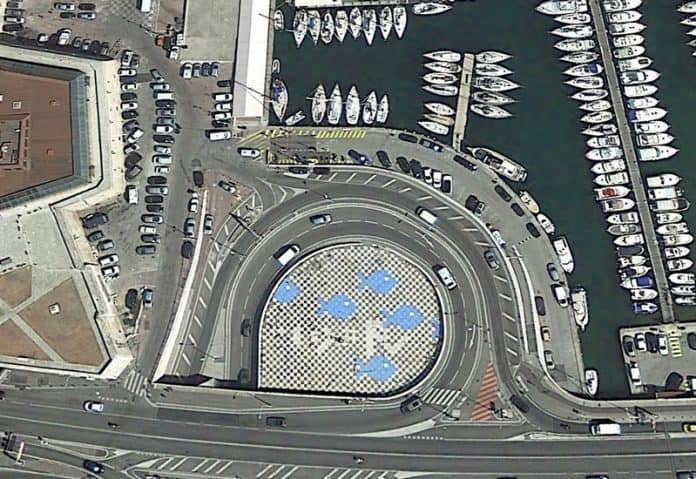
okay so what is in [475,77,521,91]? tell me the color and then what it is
white boat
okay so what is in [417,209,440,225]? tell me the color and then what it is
white vehicle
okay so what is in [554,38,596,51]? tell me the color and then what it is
white boat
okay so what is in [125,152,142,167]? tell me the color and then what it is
black car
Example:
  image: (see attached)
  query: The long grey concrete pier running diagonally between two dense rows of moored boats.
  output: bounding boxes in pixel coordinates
[589,0,674,324]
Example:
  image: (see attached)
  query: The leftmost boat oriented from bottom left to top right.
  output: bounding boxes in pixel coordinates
[287,110,306,124]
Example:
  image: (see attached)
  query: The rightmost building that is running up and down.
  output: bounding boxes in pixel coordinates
[234,0,271,118]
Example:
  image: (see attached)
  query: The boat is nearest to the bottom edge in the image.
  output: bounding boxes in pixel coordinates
[585,367,598,395]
